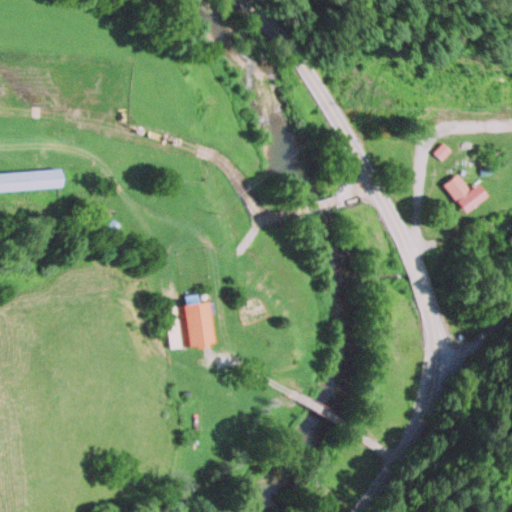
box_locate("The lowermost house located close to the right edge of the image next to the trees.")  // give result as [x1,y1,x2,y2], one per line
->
[444,174,489,214]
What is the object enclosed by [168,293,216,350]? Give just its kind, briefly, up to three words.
house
